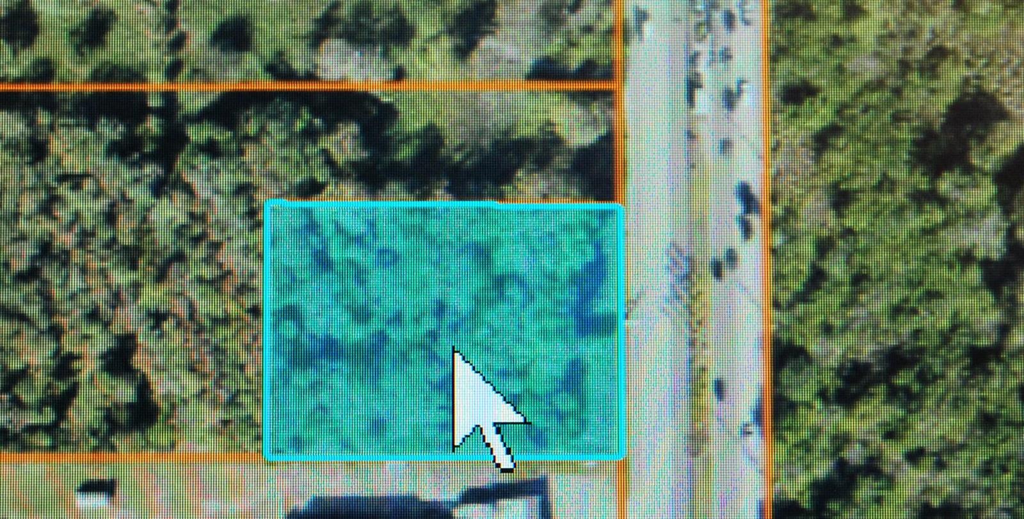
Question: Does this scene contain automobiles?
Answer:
No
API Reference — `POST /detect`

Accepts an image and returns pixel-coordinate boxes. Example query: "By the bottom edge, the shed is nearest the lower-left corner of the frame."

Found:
[75,494,106,510]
